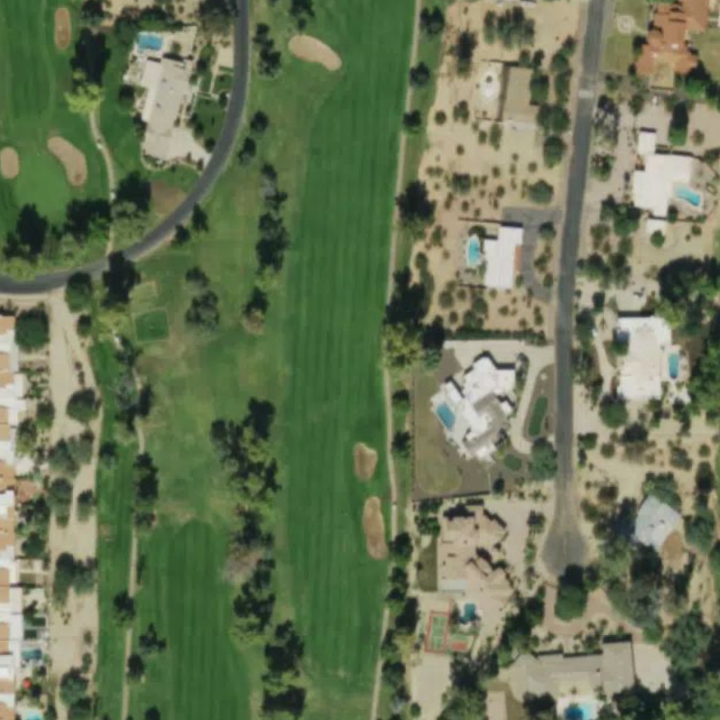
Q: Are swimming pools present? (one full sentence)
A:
Yes, I can see a swimming pool in this picture.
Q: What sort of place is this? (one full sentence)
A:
It's a golf course.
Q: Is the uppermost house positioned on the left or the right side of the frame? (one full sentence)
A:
It is on the right.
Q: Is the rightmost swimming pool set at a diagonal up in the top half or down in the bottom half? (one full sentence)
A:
It is in the top half that the rightmost swimming pool set at a diagonal appears.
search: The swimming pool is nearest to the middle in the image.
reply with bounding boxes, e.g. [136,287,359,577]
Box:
[435,401,456,431]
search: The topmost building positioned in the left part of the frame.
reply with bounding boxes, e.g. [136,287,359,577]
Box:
[142,58,190,158]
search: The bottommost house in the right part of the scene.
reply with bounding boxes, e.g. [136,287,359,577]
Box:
[488,691,507,720]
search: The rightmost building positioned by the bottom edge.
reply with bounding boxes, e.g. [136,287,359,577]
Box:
[509,642,634,701]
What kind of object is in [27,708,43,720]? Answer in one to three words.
swimming pool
